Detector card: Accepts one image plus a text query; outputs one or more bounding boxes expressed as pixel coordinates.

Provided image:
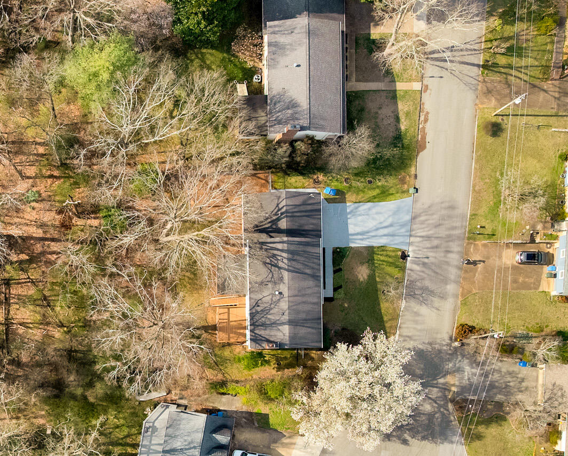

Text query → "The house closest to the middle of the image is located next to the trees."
[208,192,333,350]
